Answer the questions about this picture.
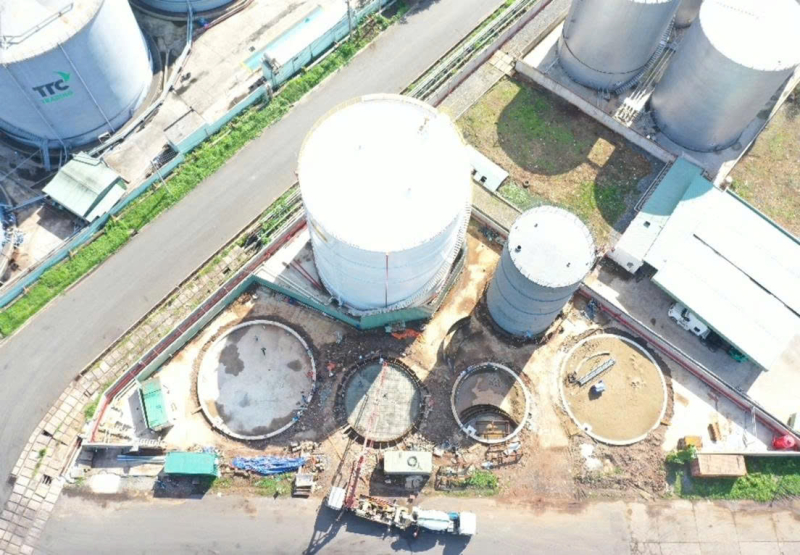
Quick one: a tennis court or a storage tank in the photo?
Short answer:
storage tank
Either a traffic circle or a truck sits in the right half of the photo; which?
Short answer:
truck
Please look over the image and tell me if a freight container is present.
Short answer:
Yes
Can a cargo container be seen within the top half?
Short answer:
No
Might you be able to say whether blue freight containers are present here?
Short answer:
No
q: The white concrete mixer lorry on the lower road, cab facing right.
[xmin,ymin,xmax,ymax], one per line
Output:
[402,505,477,536]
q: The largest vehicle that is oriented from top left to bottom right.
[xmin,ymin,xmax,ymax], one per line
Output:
[666,306,726,357]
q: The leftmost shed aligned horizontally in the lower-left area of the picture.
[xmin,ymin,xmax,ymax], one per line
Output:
[164,451,224,480]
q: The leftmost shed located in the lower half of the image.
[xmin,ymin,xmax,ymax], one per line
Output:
[135,375,174,431]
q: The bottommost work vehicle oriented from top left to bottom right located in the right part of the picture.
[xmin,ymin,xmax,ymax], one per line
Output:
[723,347,747,366]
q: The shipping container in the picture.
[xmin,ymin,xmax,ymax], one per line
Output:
[384,453,434,478]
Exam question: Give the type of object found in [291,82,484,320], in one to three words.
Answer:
storage tank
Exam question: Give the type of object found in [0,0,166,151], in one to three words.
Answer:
storage tank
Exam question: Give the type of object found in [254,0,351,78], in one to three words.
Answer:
shed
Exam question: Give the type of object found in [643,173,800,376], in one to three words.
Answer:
building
